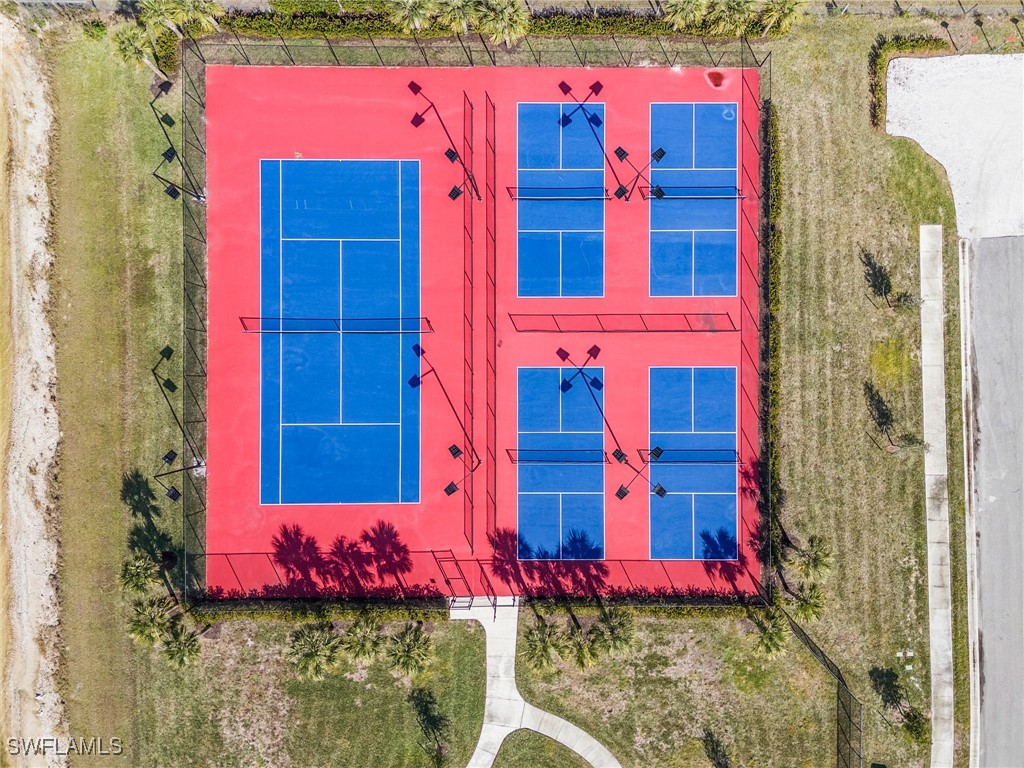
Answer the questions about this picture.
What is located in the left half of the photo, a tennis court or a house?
tennis court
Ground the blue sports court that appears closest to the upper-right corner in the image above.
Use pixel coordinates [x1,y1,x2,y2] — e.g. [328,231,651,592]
[650,103,738,297]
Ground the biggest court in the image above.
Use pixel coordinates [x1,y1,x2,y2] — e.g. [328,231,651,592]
[260,160,419,504]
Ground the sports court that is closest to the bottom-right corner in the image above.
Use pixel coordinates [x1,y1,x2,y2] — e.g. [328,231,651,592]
[650,367,737,560]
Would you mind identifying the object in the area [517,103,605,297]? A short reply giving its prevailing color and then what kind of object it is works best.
blue sports court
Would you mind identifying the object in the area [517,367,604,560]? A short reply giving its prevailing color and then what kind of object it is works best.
blue sports court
